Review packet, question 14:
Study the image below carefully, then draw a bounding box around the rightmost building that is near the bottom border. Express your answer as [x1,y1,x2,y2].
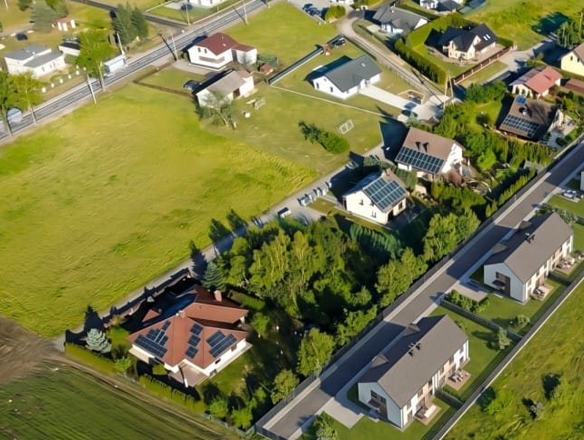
[353,312,471,428]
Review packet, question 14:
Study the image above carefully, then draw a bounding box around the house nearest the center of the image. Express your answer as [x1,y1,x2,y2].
[340,165,407,223]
